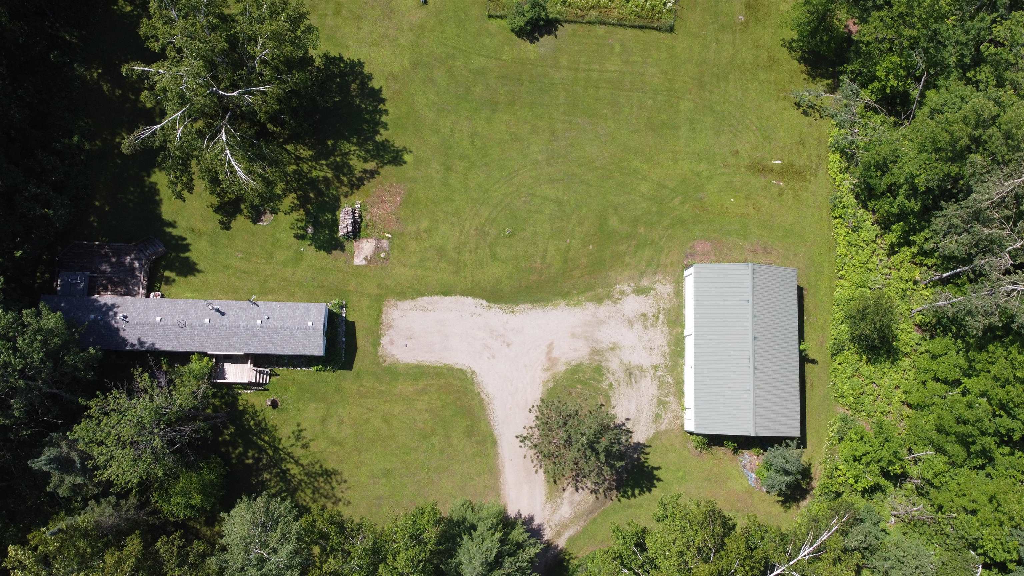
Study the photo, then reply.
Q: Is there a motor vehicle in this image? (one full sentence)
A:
No, the scene contains no motor vehicle.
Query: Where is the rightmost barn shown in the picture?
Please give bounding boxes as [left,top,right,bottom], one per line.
[686,263,801,437]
